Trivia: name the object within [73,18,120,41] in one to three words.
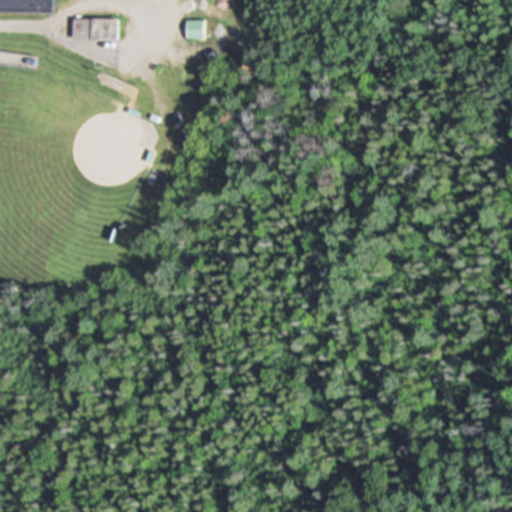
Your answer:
building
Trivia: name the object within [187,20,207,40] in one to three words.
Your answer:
shed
